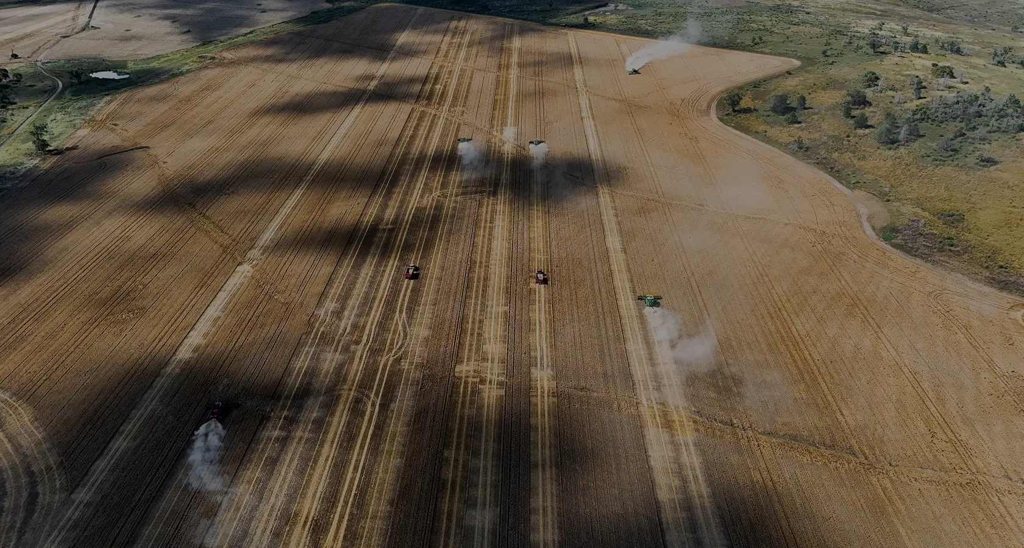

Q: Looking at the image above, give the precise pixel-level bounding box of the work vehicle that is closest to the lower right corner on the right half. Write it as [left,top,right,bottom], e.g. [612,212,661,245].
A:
[636,295,662,311]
